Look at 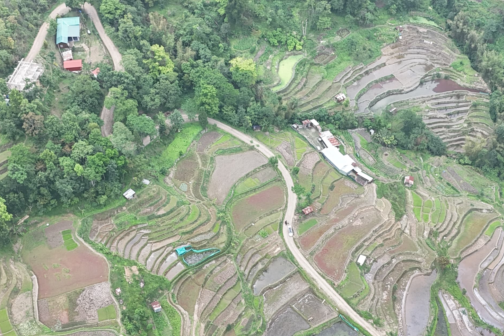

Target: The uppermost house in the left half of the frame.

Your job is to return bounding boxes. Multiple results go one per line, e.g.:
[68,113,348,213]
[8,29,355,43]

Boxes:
[56,16,82,52]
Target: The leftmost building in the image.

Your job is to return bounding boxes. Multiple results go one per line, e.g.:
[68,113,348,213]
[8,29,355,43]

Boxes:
[5,60,39,93]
